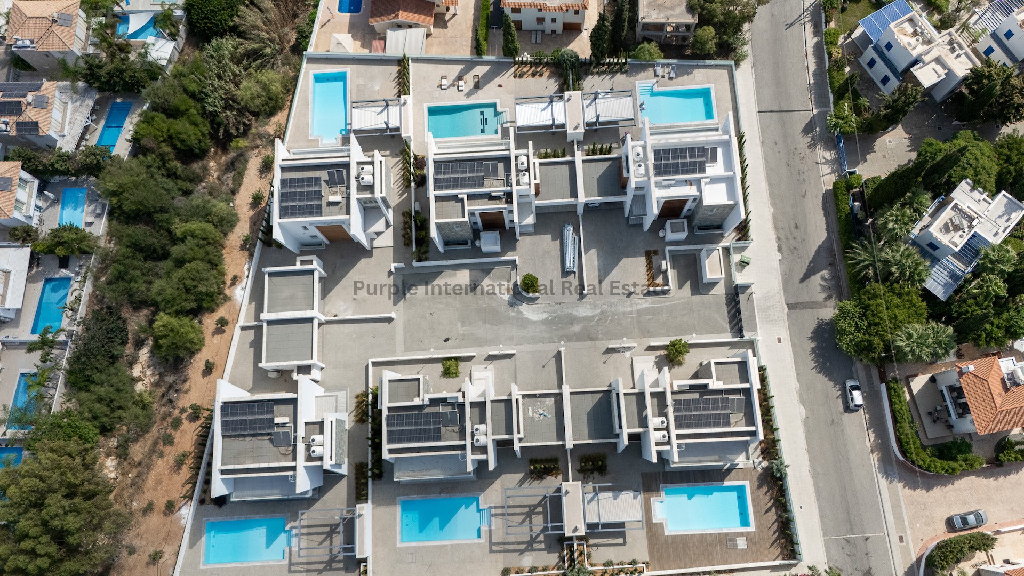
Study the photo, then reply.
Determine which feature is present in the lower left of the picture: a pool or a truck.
pool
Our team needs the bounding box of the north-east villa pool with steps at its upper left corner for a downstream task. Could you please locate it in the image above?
[636,79,717,128]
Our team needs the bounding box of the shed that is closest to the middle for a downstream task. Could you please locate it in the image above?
[480,230,501,253]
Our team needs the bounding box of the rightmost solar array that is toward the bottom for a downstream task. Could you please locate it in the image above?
[674,396,730,430]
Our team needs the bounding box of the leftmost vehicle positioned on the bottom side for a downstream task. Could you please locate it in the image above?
[841,378,866,412]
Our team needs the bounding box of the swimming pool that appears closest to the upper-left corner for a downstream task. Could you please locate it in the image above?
[114,7,162,41]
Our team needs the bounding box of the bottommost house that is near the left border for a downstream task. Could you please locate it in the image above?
[0,247,43,315]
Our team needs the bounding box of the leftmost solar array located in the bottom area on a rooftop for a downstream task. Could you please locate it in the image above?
[223,400,276,436]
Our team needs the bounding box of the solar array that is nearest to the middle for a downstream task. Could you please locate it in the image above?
[435,160,484,191]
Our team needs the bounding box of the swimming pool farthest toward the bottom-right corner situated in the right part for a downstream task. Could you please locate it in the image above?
[651,478,752,536]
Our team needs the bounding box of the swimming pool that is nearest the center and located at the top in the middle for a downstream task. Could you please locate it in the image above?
[424,99,511,144]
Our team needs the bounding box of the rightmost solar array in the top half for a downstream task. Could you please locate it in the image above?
[654,146,705,177]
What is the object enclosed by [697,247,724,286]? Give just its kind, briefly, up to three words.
shed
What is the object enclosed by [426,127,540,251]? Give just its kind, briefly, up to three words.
house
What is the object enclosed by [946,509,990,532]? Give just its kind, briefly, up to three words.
car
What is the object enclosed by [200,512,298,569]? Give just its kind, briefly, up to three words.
swimming pool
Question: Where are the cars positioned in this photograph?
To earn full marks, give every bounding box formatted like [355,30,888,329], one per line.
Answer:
[841,378,866,412]
[946,509,990,532]
[587,203,601,209]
